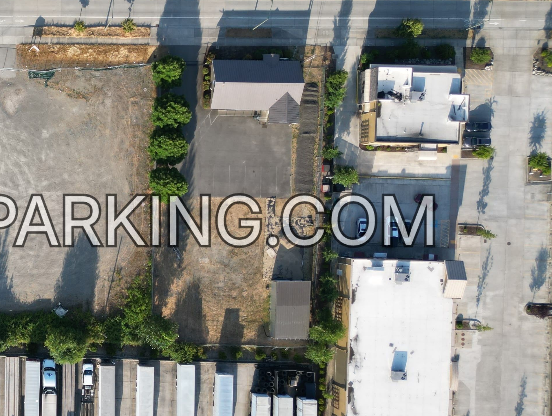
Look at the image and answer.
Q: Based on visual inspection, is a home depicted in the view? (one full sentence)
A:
Yes, a home appears in the view.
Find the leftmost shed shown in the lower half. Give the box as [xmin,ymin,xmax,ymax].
[268,280,310,340]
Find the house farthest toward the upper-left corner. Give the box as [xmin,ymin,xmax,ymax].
[209,52,310,123]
